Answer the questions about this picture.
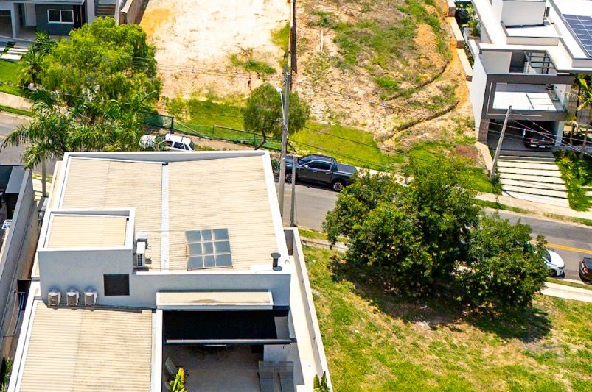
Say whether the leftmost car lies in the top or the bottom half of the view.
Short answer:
top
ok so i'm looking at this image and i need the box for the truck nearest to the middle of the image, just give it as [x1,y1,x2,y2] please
[281,152,365,192]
